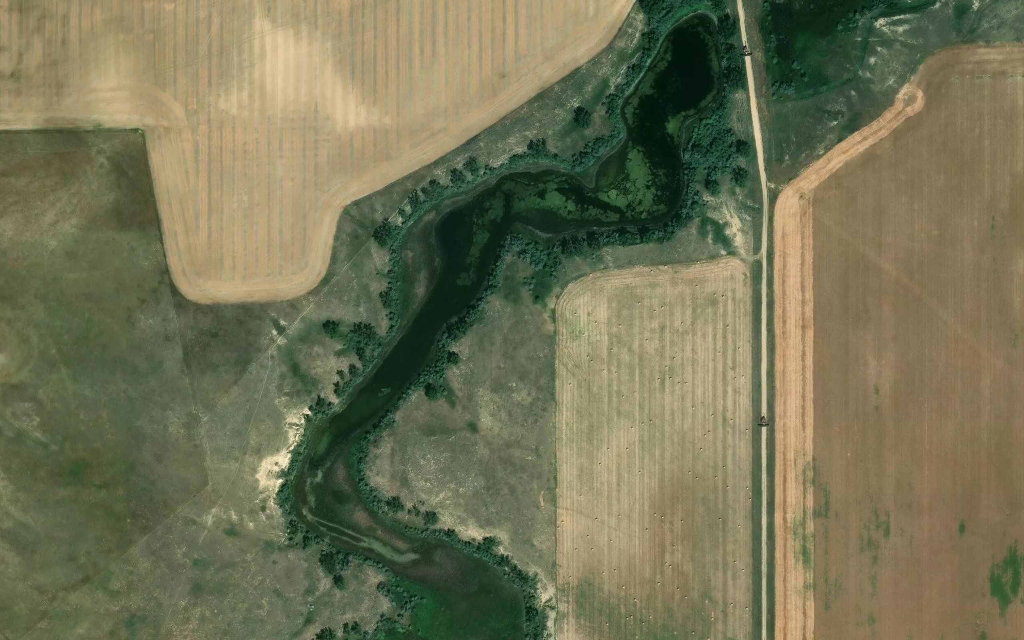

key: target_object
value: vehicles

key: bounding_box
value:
[758,416,770,427]
[742,43,753,56]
